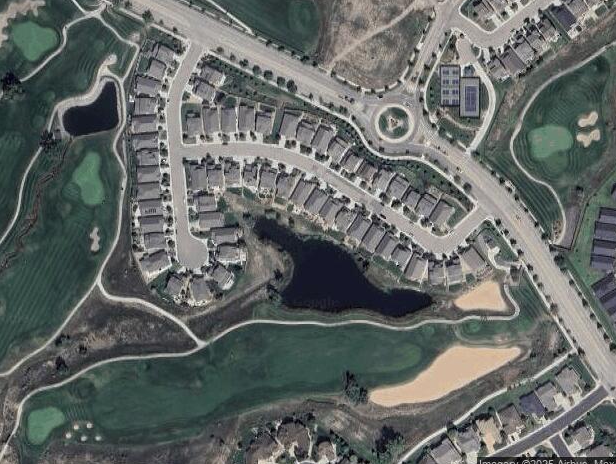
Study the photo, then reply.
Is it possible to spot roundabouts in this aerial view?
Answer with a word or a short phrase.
Yes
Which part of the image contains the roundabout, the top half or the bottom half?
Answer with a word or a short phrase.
top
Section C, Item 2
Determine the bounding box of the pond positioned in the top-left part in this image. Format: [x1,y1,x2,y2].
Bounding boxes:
[62,79,120,135]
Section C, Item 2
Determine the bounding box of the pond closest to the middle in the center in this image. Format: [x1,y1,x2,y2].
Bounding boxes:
[254,218,432,316]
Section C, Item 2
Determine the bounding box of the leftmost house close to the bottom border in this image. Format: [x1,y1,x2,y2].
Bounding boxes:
[247,434,278,464]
